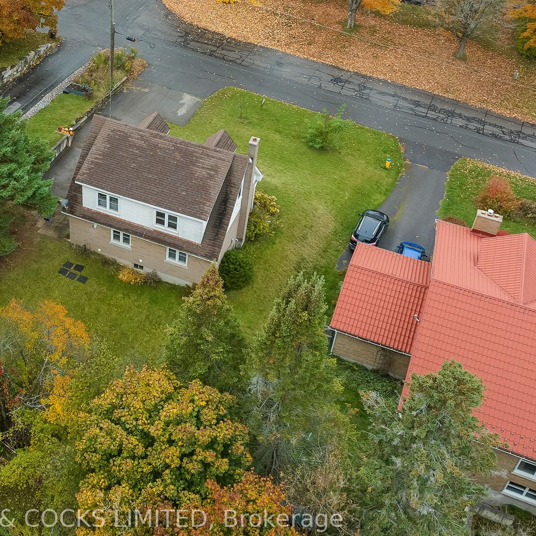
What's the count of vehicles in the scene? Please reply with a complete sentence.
Looking from above, you can make out 2 vehicles.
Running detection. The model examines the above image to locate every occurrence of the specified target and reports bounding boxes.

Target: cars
[340,207,387,257]
[395,236,430,256]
